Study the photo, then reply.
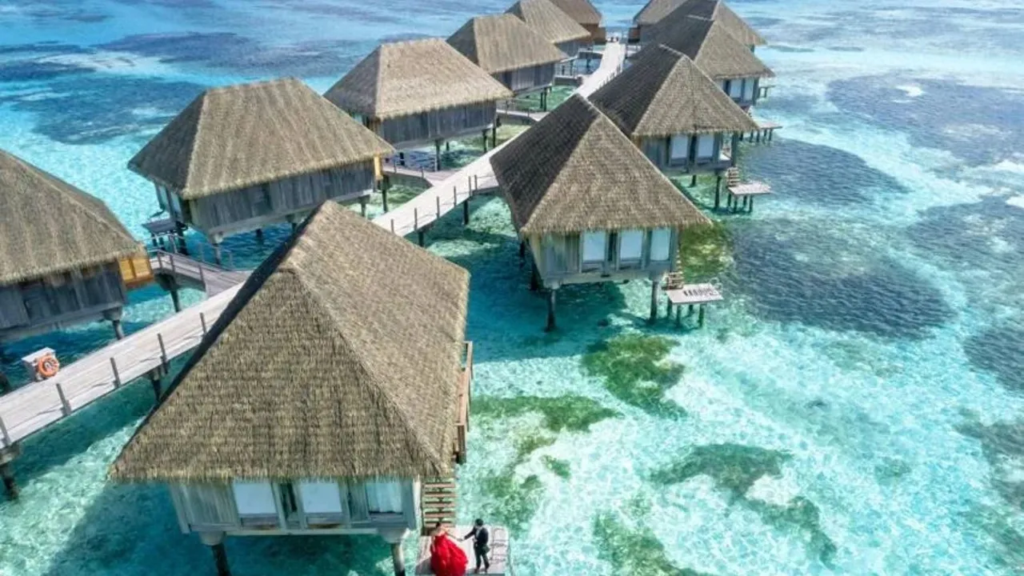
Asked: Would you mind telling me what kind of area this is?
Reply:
residential area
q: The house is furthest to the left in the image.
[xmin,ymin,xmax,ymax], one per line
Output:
[0,143,156,391]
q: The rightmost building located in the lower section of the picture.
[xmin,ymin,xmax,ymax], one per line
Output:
[110,199,477,576]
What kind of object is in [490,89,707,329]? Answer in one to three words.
house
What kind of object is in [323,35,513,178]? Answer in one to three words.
house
